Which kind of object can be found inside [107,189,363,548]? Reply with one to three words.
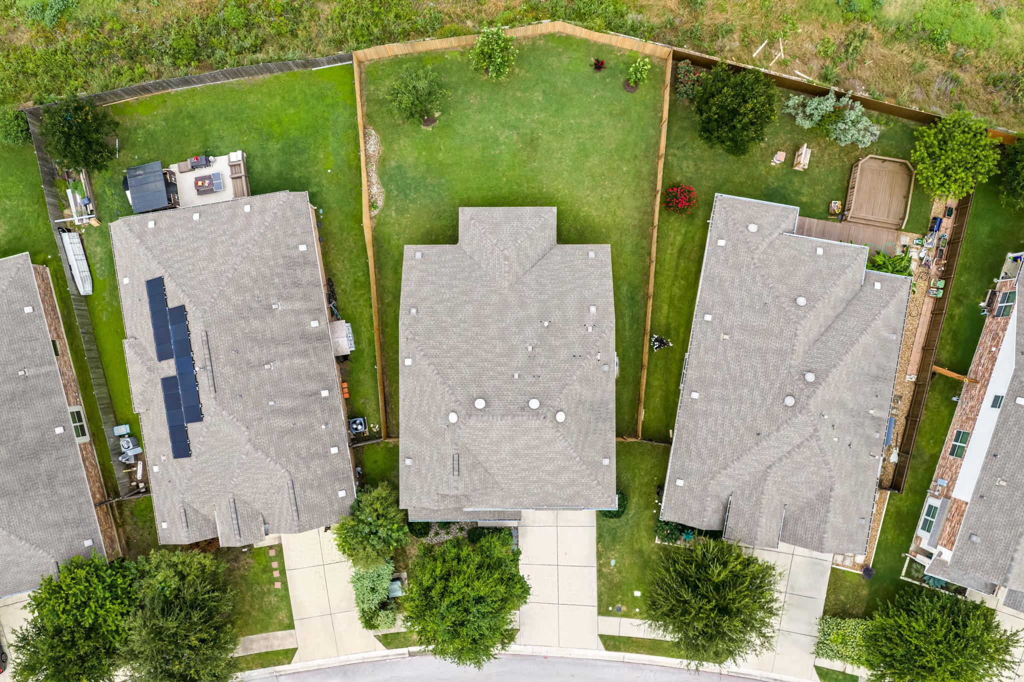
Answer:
house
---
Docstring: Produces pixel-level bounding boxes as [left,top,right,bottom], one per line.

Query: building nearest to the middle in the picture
[398,206,618,526]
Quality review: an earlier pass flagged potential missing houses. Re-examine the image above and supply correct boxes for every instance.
[398,206,618,526]
[908,249,1024,613]
[0,253,126,598]
[658,191,913,554]
[107,189,363,548]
